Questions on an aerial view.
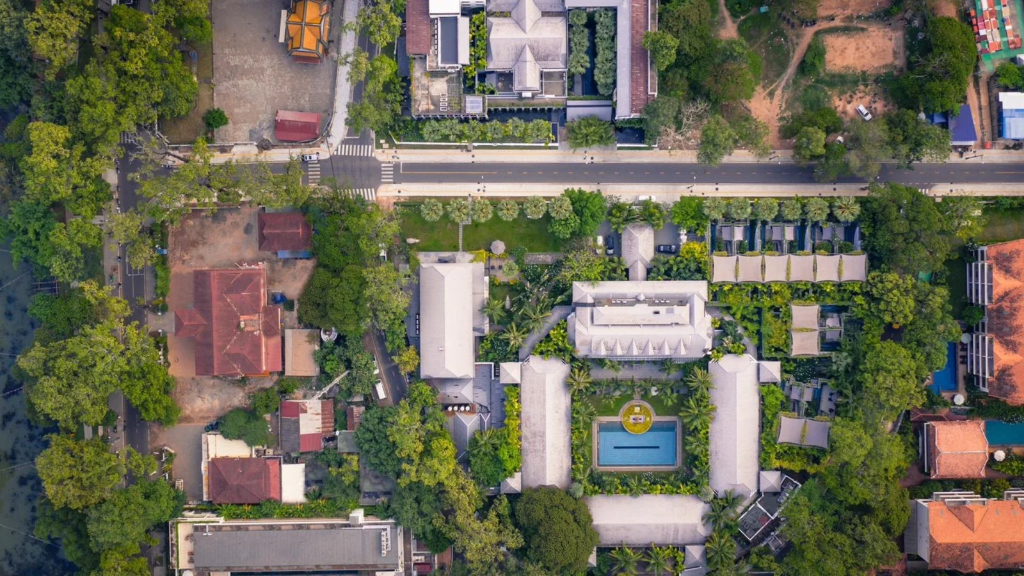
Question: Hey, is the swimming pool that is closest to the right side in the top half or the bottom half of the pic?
bottom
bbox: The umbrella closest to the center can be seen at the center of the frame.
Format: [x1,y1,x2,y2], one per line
[490,240,504,254]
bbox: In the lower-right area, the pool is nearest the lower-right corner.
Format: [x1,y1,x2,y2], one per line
[983,418,1024,447]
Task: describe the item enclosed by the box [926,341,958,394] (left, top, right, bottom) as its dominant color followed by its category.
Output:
blue swimming pool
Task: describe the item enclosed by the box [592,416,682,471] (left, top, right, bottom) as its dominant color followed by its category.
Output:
blue swimming pool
